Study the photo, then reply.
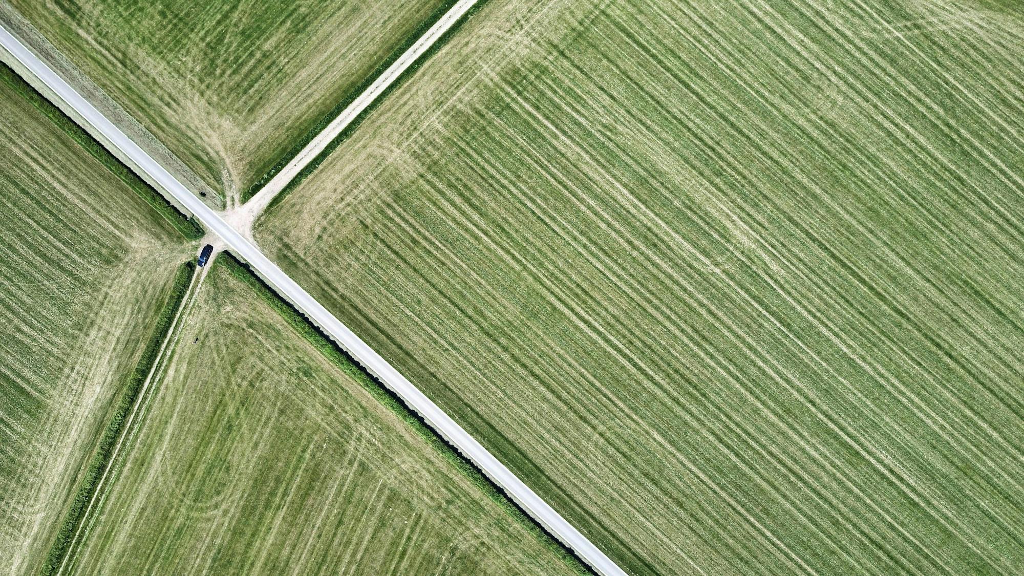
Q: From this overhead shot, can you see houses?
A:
No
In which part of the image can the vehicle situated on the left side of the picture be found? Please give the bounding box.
[198,245,213,267]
